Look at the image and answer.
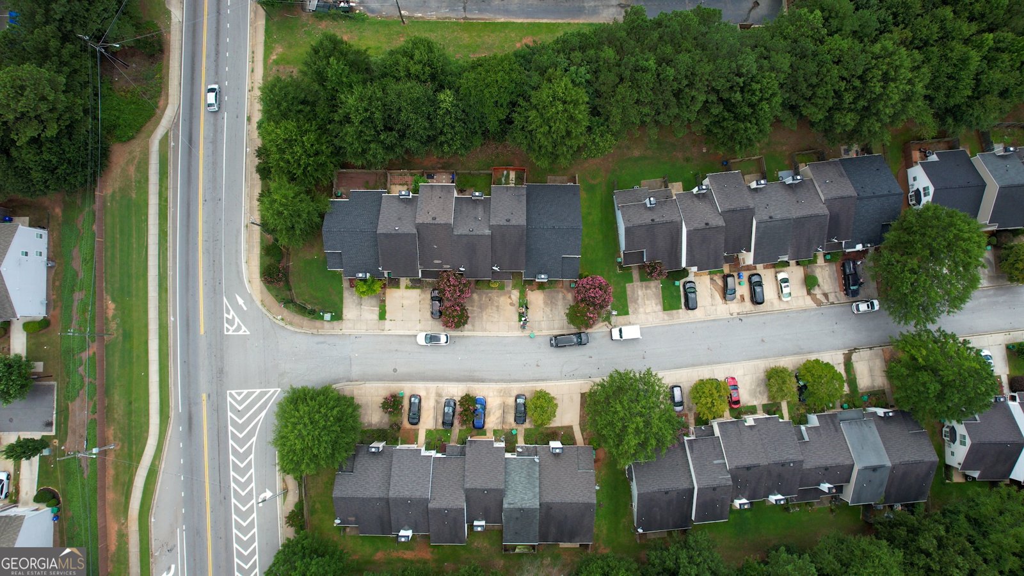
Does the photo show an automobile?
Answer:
Yes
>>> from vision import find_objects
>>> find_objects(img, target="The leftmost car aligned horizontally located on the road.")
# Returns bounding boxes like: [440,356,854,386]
[416,331,450,347]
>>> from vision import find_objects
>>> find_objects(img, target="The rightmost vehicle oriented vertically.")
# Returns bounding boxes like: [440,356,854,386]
[840,259,862,298]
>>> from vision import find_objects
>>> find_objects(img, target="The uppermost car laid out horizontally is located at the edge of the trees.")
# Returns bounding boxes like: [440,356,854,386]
[848,299,880,315]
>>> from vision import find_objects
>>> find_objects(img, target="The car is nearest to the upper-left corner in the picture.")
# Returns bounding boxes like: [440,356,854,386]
[206,84,222,113]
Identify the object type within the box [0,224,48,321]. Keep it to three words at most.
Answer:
house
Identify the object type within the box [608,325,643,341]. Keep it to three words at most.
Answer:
vehicle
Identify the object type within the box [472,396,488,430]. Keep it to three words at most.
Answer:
car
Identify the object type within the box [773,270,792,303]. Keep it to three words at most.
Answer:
car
